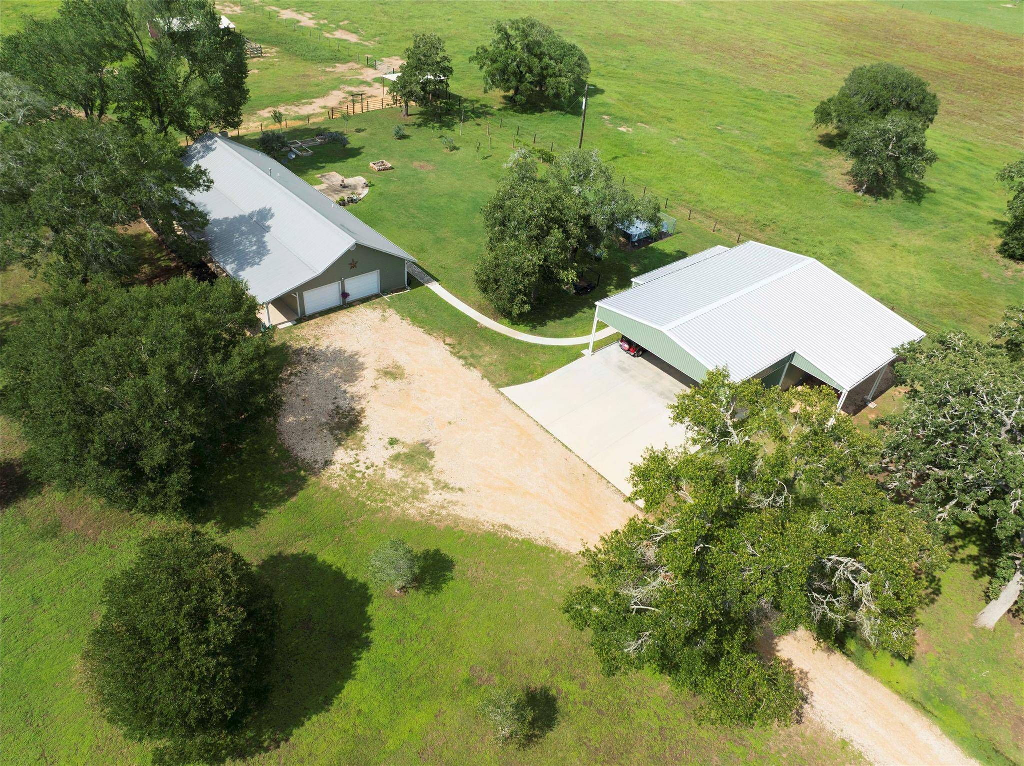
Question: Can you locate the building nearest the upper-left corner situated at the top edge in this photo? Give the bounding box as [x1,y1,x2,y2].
[196,15,237,49]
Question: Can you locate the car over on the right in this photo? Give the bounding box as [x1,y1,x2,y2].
[616,339,641,358]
